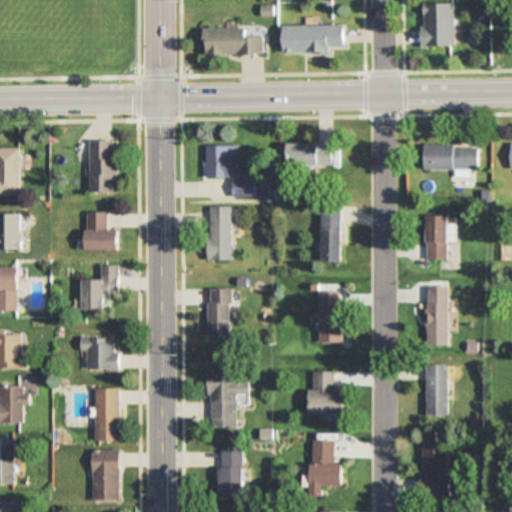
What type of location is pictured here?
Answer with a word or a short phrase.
residential area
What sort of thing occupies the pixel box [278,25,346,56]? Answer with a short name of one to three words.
house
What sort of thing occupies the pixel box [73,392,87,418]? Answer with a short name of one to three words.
swimming pool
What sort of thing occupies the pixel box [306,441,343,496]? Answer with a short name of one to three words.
house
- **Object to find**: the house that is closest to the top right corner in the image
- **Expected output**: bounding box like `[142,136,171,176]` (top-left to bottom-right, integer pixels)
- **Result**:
[418,2,457,49]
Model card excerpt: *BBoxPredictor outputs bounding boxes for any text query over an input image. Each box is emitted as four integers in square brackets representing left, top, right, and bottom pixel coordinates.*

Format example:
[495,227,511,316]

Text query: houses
[218,450,243,498]
[81,212,118,250]
[320,204,342,262]
[206,289,234,337]
[424,286,450,346]
[205,378,251,429]
[0,386,24,425]
[0,214,22,250]
[284,142,334,168]
[306,441,343,496]
[420,144,480,172]
[80,265,121,310]
[79,335,120,372]
[306,372,344,410]
[204,146,260,200]
[0,333,23,368]
[88,450,122,500]
[0,148,23,191]
[0,266,18,312]
[420,446,449,502]
[205,207,235,262]
[418,2,457,49]
[318,292,345,344]
[424,216,448,262]
[200,28,264,58]
[0,460,16,486]
[278,25,346,56]
[96,388,121,442]
[88,140,120,190]
[425,365,449,417]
